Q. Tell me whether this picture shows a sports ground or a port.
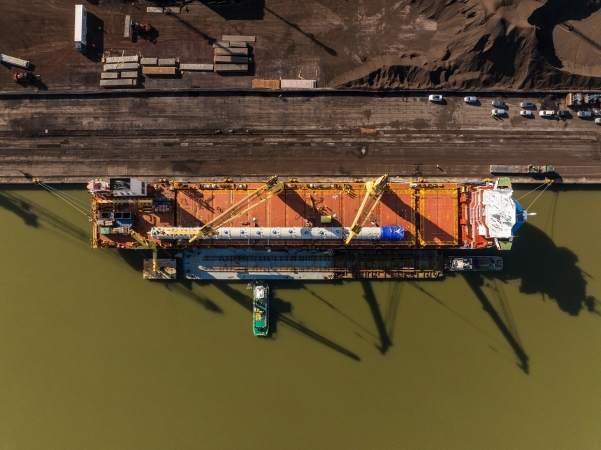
port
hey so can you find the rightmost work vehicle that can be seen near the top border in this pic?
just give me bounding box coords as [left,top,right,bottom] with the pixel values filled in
[123,17,158,36]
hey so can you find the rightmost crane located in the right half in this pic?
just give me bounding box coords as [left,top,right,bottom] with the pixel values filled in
[344,172,394,249]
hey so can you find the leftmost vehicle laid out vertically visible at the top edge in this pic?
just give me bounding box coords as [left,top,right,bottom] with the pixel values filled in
[75,5,89,56]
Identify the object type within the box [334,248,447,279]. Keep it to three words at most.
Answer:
ship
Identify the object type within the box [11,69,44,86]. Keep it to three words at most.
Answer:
work vehicle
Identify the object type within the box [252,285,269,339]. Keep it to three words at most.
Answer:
boat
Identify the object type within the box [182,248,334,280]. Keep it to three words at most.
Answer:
ship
